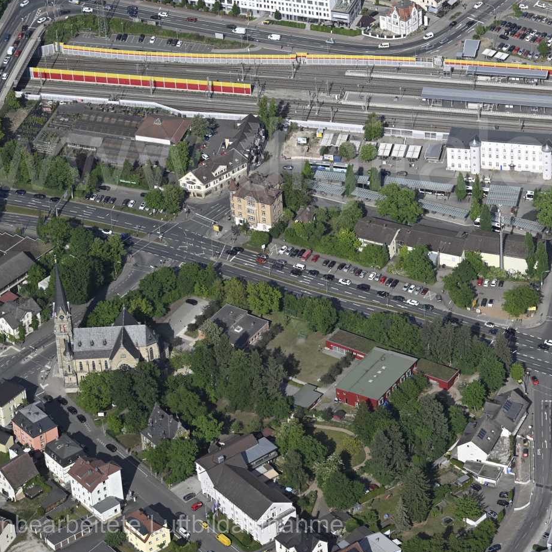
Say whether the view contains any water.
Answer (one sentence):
No, the scene doesn't show any water.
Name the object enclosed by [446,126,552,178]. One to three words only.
train station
